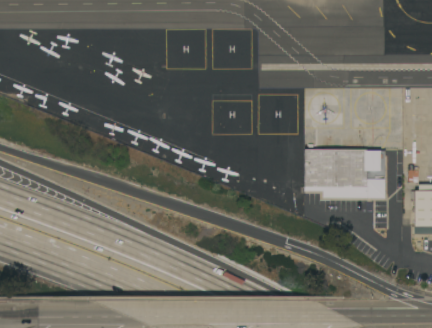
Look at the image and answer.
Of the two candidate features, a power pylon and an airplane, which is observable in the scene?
airplane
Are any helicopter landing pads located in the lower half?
No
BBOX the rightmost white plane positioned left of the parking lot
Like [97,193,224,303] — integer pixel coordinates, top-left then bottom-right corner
[216,166,238,182]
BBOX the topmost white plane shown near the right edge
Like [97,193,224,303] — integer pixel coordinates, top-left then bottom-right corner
[405,142,419,164]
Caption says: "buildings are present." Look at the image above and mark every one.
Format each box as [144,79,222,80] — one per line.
[414,184,432,234]
[303,149,386,200]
